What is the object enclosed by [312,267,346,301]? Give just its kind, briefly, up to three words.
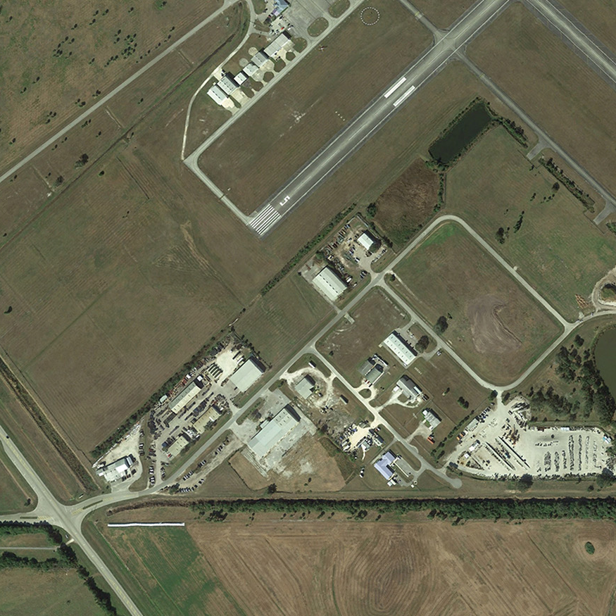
building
